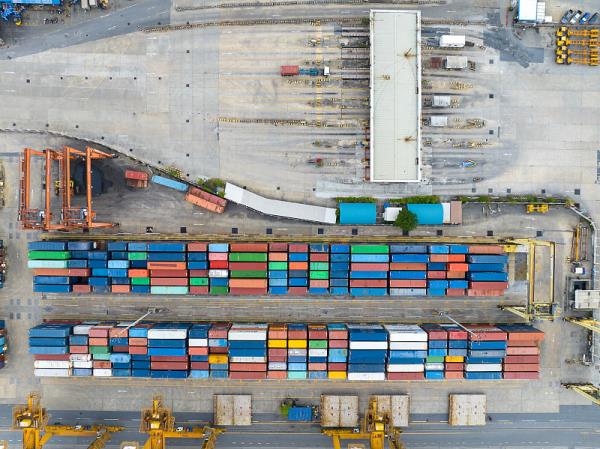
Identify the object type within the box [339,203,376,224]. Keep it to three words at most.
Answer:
shed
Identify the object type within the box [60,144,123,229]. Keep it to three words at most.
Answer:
container crane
